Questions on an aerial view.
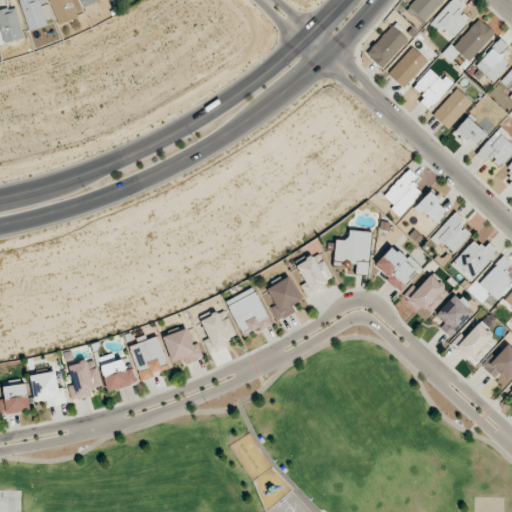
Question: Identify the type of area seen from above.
residential area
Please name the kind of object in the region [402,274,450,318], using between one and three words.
house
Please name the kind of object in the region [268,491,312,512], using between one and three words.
basketball court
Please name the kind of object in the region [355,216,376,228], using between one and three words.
swimming pool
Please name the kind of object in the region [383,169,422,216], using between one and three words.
house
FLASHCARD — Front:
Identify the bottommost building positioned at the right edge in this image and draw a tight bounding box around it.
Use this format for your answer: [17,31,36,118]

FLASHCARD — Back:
[482,342,512,385]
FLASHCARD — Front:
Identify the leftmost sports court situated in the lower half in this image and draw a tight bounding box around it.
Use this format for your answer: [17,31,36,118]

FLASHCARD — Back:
[230,433,272,480]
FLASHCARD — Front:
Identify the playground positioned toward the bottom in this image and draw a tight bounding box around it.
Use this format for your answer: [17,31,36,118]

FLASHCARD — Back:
[254,468,292,512]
